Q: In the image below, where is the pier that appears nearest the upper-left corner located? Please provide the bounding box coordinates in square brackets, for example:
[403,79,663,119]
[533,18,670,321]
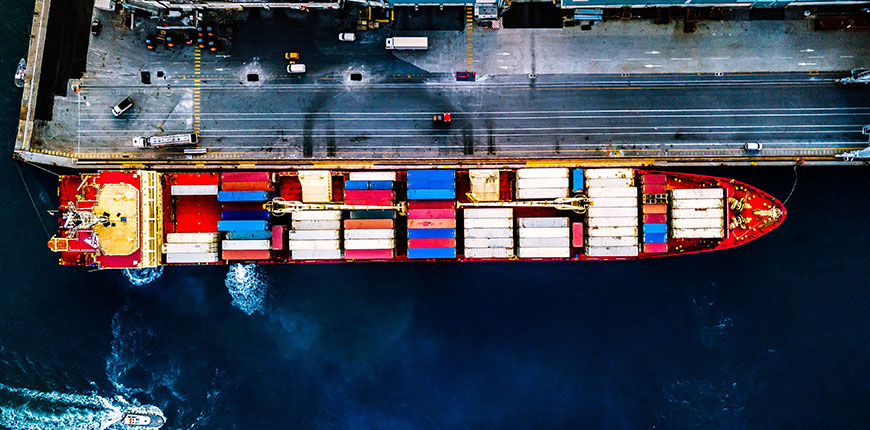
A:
[15,0,51,149]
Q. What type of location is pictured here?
port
